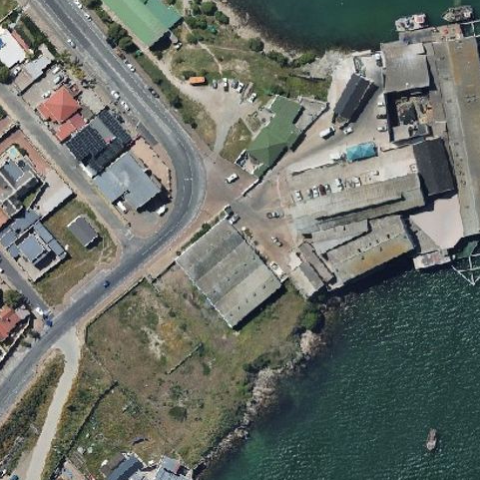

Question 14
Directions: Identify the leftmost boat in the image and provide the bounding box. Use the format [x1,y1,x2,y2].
[395,15,426,31]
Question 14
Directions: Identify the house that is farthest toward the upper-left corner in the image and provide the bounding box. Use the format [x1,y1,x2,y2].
[0,26,28,68]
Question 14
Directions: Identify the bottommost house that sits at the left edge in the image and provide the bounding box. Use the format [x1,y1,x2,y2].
[0,305,30,341]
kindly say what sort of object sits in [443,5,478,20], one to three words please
boat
